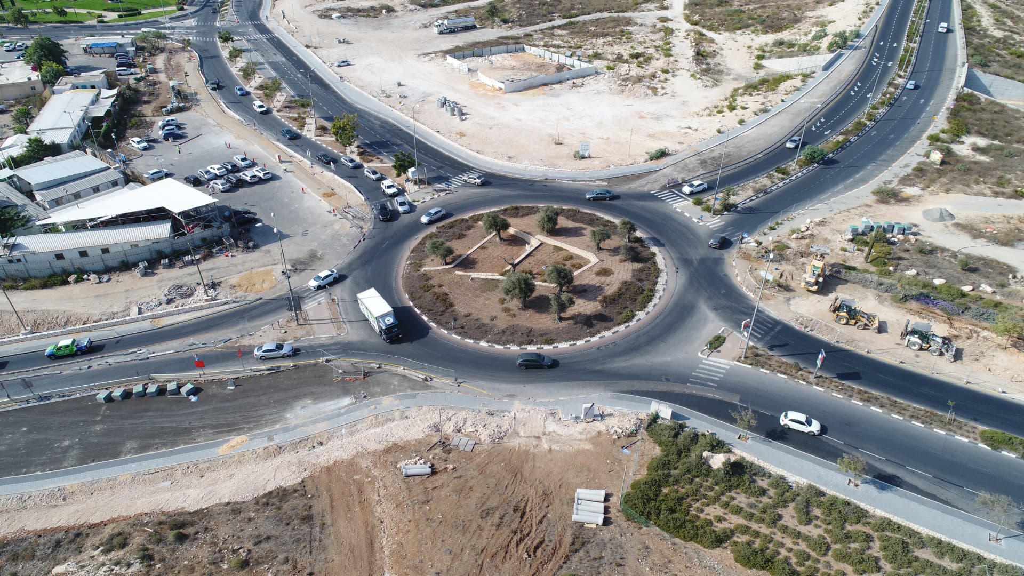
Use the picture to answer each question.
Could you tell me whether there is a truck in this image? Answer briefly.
Yes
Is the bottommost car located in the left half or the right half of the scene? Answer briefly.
right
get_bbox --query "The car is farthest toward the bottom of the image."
[777,410,822,437]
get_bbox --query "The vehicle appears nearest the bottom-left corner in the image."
[44,339,93,362]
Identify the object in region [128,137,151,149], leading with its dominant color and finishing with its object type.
white vehicle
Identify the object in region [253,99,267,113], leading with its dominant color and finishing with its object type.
white car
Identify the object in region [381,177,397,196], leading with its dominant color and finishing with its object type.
white car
